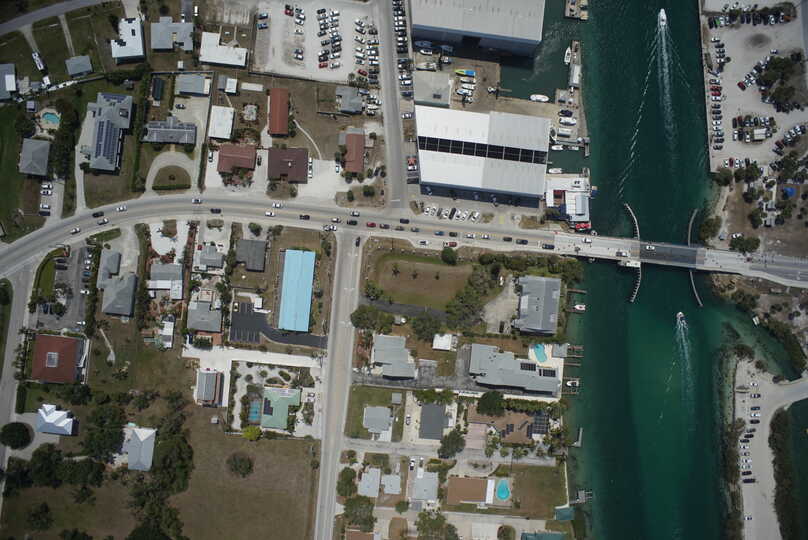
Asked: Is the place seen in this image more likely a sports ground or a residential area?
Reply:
residential area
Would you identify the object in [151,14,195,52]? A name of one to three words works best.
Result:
house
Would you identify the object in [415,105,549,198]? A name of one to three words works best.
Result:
shed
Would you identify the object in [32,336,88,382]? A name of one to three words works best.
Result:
building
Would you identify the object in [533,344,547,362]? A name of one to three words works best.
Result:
swimming pool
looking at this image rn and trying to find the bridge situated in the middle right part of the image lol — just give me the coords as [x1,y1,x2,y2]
[548,231,757,276]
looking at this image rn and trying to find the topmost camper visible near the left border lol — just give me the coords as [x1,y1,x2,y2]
[31,51,46,71]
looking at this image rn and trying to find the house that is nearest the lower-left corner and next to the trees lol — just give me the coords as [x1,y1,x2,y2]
[36,401,77,435]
